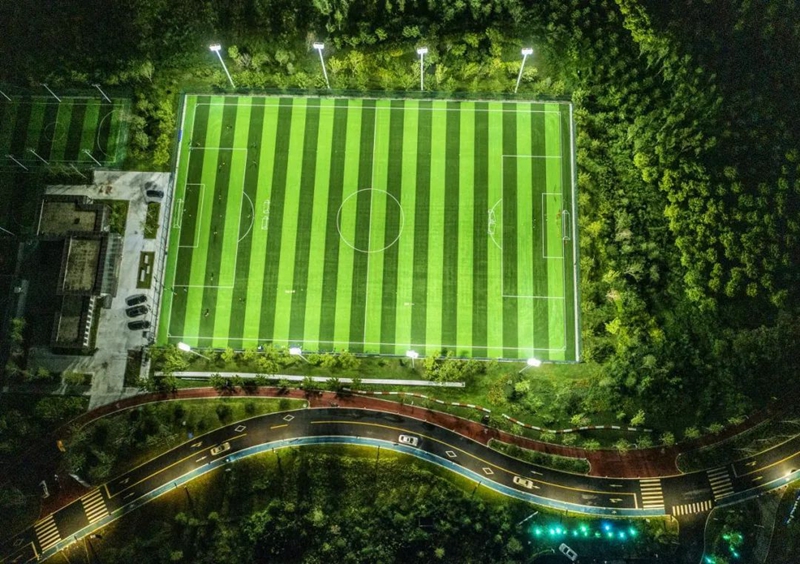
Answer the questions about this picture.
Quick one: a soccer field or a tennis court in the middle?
soccer field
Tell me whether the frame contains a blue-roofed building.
No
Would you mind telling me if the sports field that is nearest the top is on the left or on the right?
left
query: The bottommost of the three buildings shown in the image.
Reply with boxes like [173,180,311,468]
[51,298,97,350]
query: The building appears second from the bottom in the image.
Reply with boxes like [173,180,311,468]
[56,234,121,312]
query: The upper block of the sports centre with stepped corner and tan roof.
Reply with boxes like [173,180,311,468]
[34,195,109,243]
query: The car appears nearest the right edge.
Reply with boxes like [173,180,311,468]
[559,543,579,561]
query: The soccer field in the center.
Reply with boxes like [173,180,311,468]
[156,94,580,361]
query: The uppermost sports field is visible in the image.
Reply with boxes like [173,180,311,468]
[0,94,134,170]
